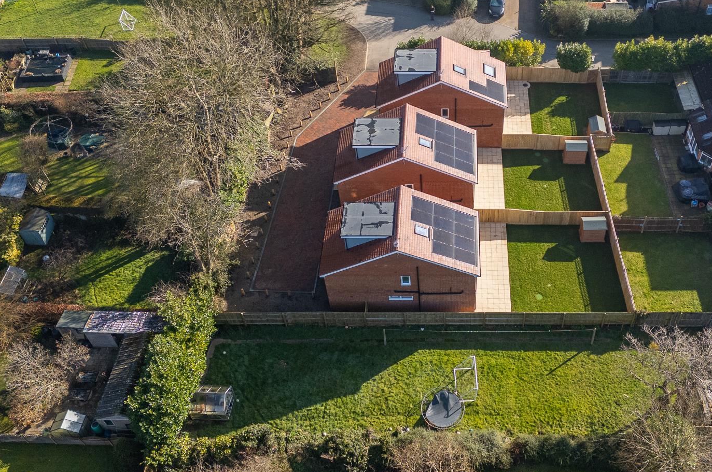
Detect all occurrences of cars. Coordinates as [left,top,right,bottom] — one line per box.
[488,0,506,17]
